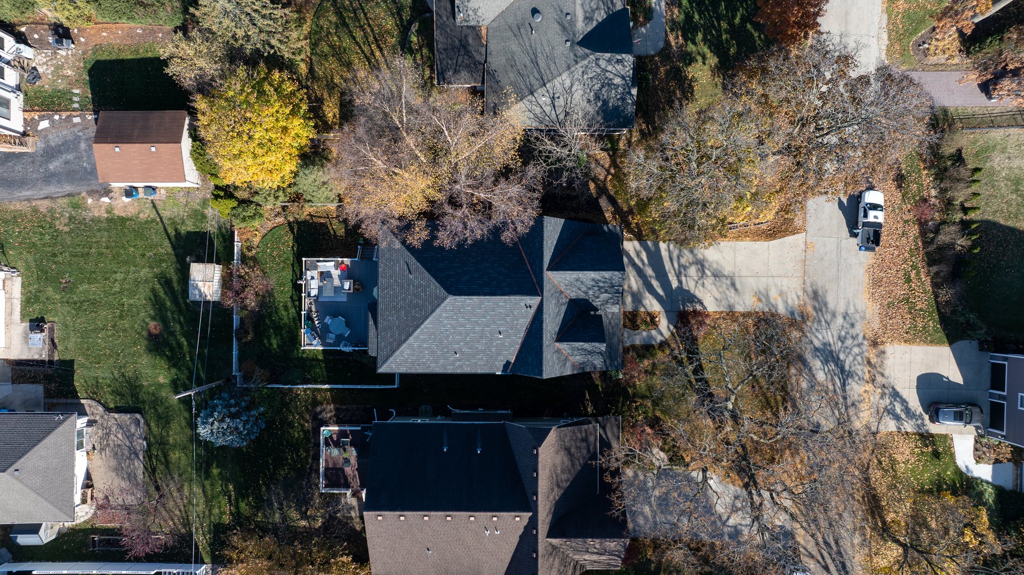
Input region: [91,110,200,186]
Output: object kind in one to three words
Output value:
building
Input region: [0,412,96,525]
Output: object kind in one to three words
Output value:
house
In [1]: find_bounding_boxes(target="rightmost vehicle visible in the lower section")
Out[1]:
[931,404,987,429]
